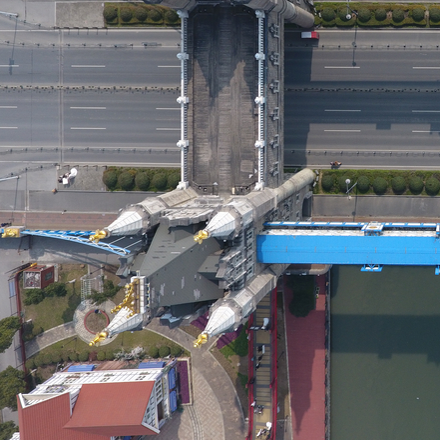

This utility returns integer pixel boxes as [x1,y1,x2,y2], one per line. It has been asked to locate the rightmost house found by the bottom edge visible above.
[14,357,174,440]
